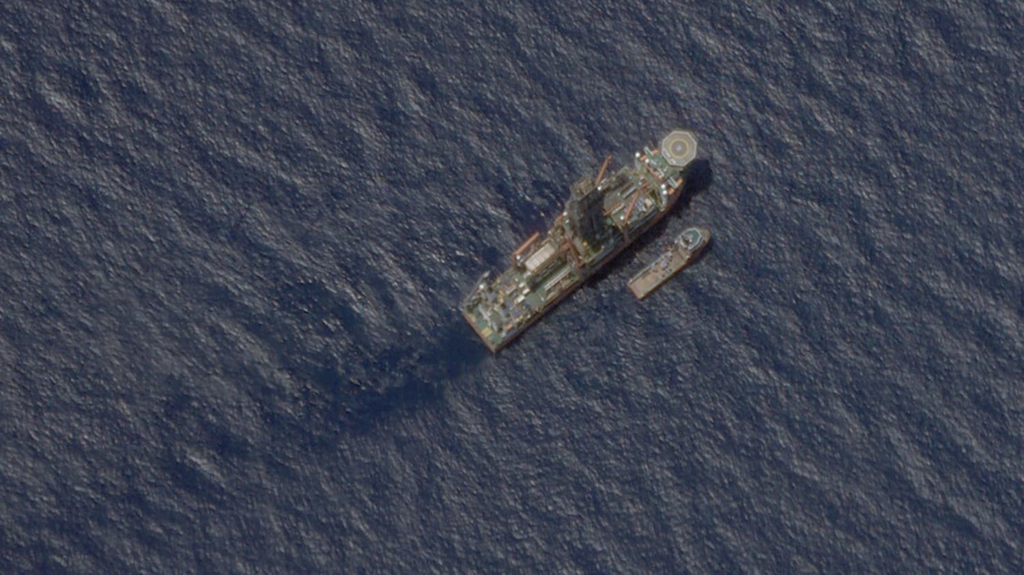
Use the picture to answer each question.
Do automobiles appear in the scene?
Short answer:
No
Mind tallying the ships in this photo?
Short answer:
2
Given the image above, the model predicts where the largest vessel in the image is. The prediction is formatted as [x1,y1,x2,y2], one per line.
[463,129,698,352]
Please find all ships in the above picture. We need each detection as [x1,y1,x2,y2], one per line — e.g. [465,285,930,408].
[463,129,698,352]
[628,226,709,301]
